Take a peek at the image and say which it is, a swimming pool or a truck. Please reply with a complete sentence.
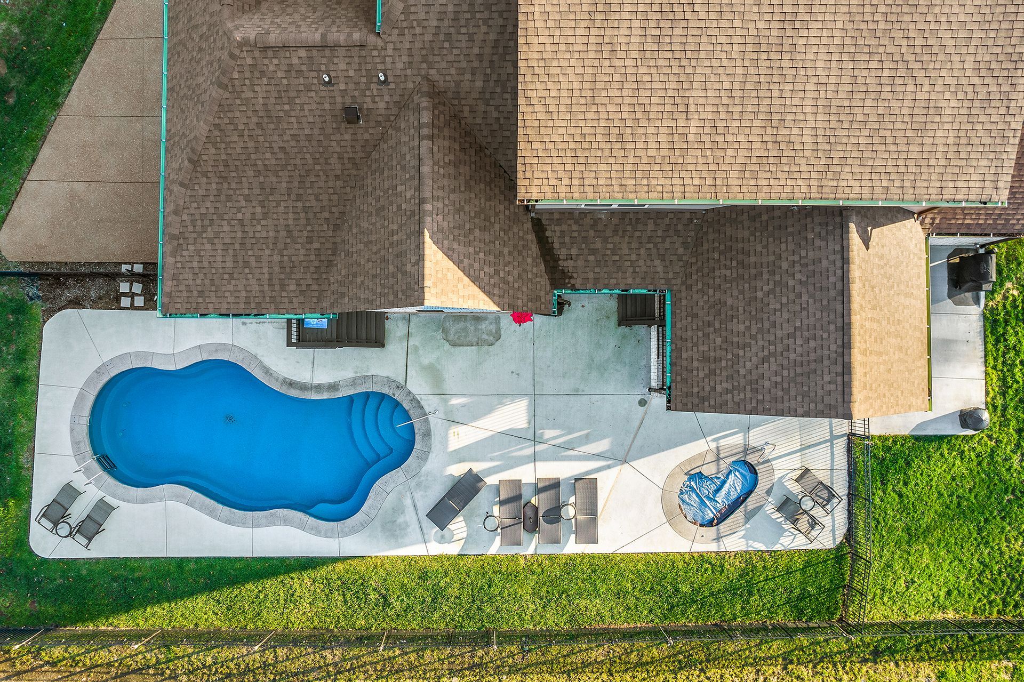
There is a swimming pool in the scene.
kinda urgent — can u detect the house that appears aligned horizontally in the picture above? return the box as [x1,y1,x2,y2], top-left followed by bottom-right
[159,0,1024,419]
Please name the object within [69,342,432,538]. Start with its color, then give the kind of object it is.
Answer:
blue swimming pool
